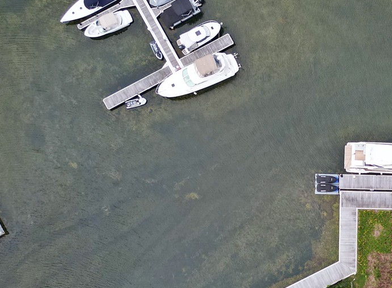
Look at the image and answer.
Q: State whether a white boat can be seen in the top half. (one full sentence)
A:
Yes, there is a white boat in the top half.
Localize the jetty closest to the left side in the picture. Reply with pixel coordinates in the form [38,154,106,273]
[78,0,134,30]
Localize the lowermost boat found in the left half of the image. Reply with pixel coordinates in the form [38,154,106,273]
[125,98,146,111]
